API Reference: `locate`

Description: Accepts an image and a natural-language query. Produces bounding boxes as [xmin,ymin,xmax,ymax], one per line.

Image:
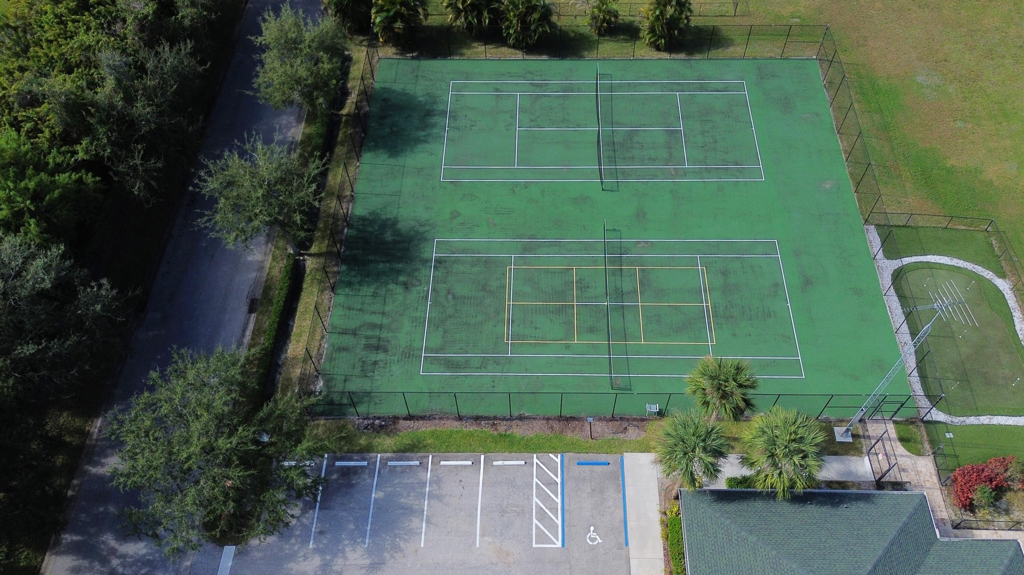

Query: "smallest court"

[504,266,717,344]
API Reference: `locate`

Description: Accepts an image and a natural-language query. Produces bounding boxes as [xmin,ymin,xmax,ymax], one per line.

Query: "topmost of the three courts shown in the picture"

[351,57,861,209]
